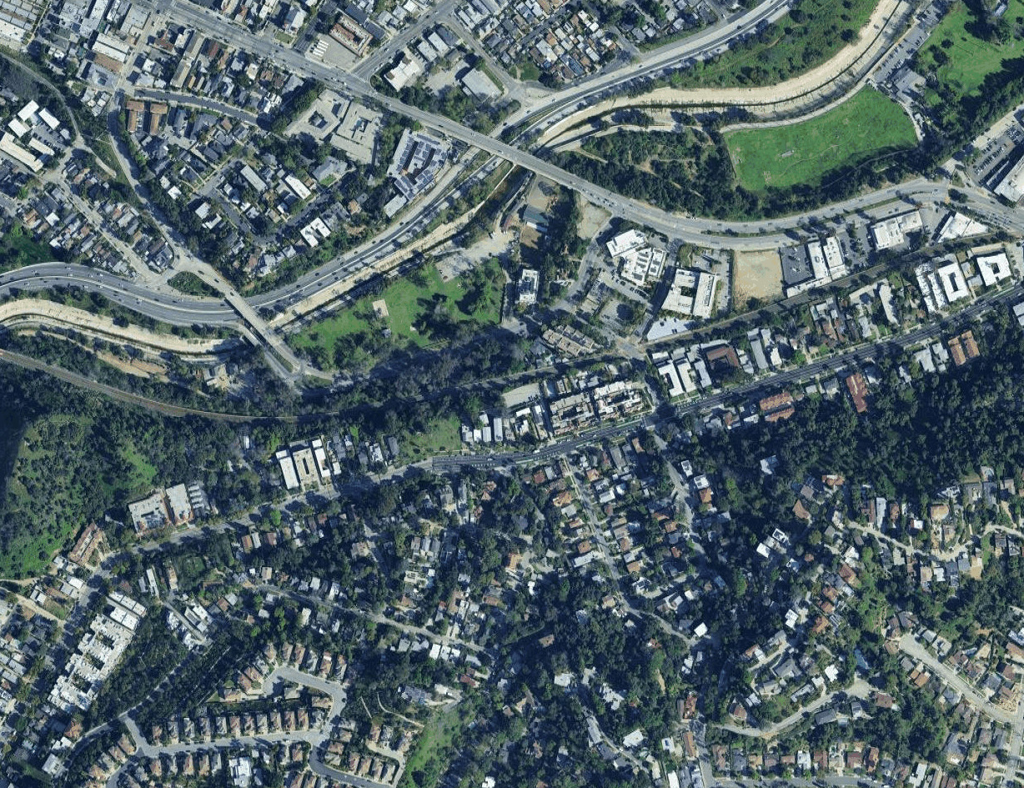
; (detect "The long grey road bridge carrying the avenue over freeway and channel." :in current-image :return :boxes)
[430,112,557,180]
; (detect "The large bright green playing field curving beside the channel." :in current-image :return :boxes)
[724,88,919,193]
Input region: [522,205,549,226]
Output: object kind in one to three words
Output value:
barn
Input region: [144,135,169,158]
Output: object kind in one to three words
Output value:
house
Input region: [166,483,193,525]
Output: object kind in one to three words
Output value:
building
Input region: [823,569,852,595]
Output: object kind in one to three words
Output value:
building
